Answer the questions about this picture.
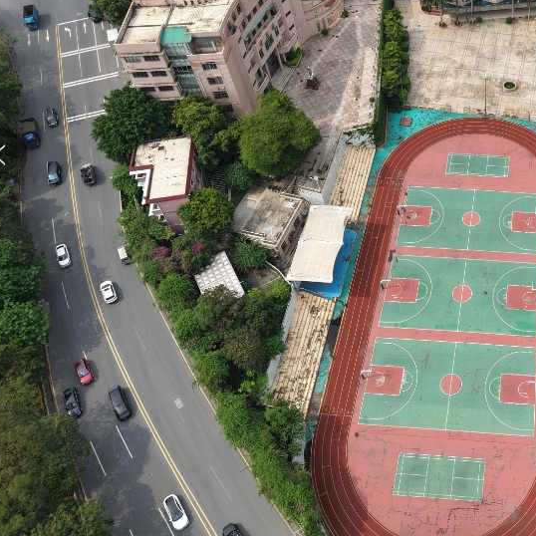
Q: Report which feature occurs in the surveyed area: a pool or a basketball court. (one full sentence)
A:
Looking from above, you can make out a basketball court.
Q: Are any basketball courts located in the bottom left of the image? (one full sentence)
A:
No, I can find no basketball court in the bottom left of the image.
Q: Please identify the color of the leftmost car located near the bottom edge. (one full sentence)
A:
In this view, the leftmost car located near the bottom edge is white.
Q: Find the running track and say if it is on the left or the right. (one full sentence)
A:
It is on the right.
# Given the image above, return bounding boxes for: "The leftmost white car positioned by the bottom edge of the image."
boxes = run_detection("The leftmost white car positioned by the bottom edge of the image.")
[163,494,190,530]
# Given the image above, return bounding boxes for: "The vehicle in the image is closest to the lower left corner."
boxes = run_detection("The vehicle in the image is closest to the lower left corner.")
[62,388,83,417]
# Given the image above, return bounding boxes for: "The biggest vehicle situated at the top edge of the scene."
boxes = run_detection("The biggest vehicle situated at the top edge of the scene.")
[23,6,38,27]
